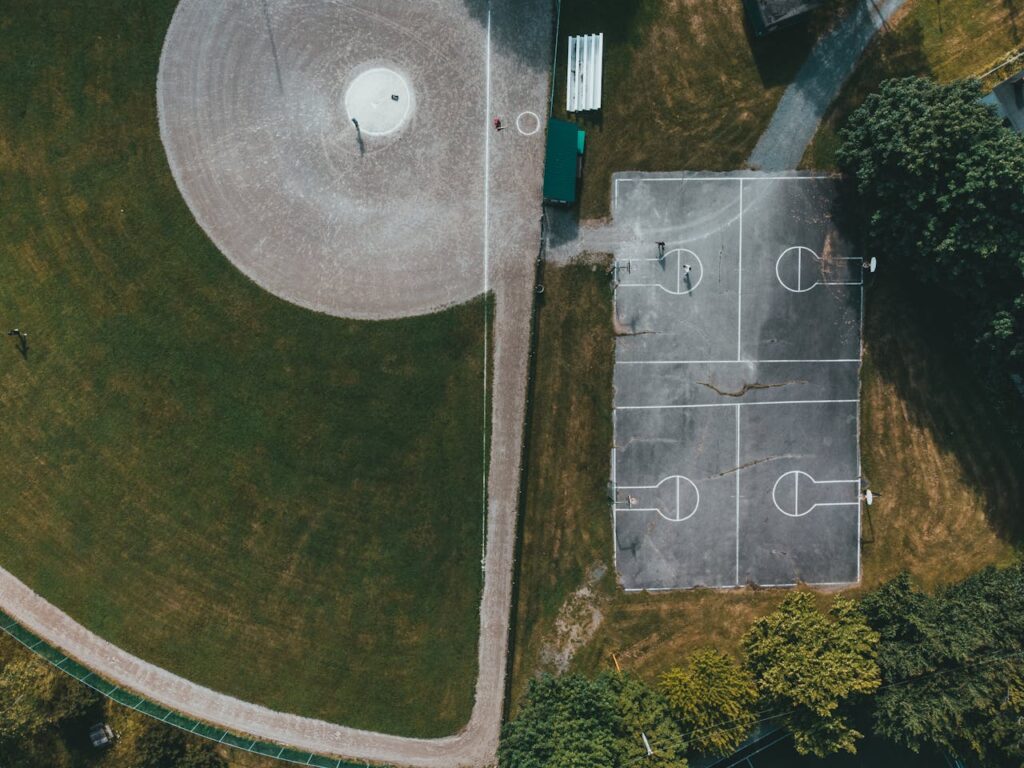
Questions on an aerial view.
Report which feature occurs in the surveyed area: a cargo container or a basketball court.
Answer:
basketball court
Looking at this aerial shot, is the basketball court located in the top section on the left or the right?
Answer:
right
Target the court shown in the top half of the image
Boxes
[614,176,863,363]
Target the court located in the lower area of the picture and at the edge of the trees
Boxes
[612,400,860,591]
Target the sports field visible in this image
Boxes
[0,0,540,741]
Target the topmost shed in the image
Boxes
[741,0,830,38]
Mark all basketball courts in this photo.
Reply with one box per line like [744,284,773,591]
[614,176,863,363]
[612,400,860,591]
